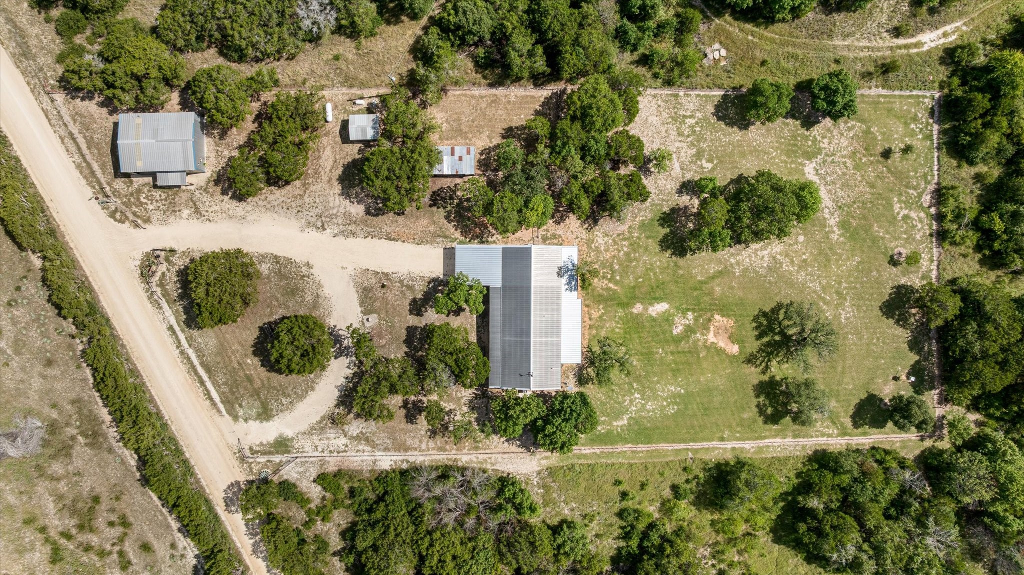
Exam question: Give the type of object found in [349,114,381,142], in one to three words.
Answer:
shed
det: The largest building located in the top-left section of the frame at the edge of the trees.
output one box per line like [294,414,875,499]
[117,112,205,187]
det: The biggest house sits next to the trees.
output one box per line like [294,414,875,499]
[455,242,582,393]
